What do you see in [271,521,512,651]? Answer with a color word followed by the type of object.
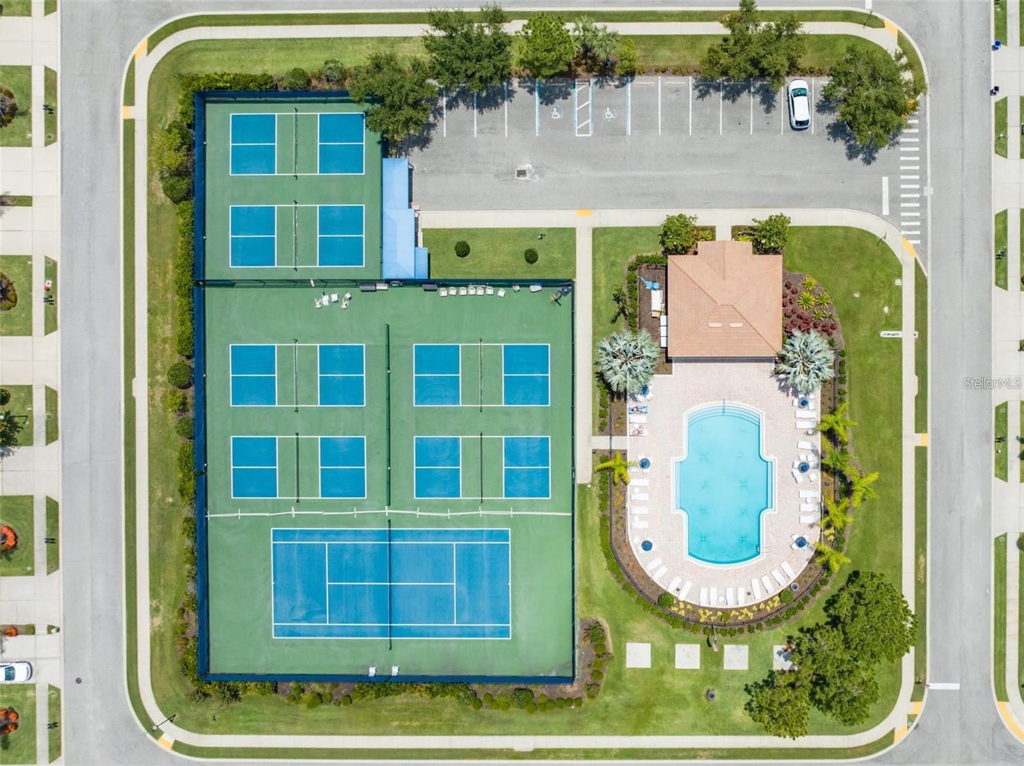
blue tennis court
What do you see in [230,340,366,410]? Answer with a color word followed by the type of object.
blue sports court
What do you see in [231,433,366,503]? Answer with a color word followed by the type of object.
blue sports court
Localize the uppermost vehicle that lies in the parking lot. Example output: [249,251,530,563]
[786,81,811,130]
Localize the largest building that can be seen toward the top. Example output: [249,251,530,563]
[667,239,783,359]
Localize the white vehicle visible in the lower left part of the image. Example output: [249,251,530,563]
[0,660,32,684]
